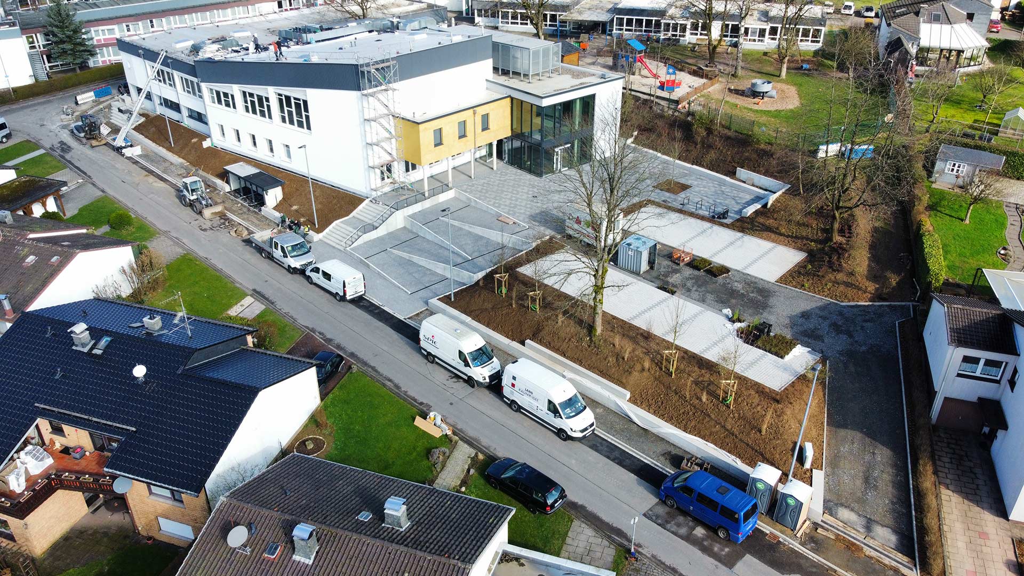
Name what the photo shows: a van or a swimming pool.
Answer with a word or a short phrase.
van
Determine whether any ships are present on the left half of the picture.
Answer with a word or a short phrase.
No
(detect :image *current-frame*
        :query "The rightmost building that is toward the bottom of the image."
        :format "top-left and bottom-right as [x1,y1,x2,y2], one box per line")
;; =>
[916,274,1024,527]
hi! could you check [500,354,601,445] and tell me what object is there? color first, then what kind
white van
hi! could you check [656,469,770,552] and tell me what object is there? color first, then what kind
blue van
